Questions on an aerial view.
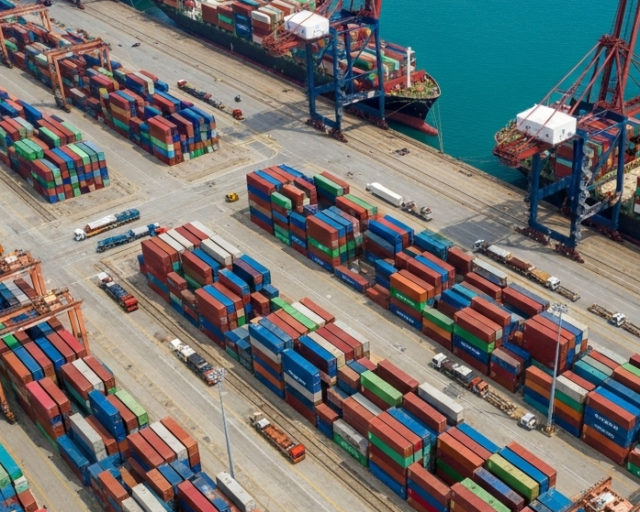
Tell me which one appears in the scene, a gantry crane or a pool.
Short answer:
gantry crane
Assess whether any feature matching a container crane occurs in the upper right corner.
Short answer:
Yes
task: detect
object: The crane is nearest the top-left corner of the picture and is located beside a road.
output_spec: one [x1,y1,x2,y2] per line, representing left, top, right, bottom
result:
[0,3,56,60]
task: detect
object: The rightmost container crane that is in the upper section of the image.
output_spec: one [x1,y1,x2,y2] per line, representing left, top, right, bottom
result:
[492,0,640,261]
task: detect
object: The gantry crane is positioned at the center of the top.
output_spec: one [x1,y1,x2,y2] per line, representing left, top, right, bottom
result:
[260,0,388,141]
